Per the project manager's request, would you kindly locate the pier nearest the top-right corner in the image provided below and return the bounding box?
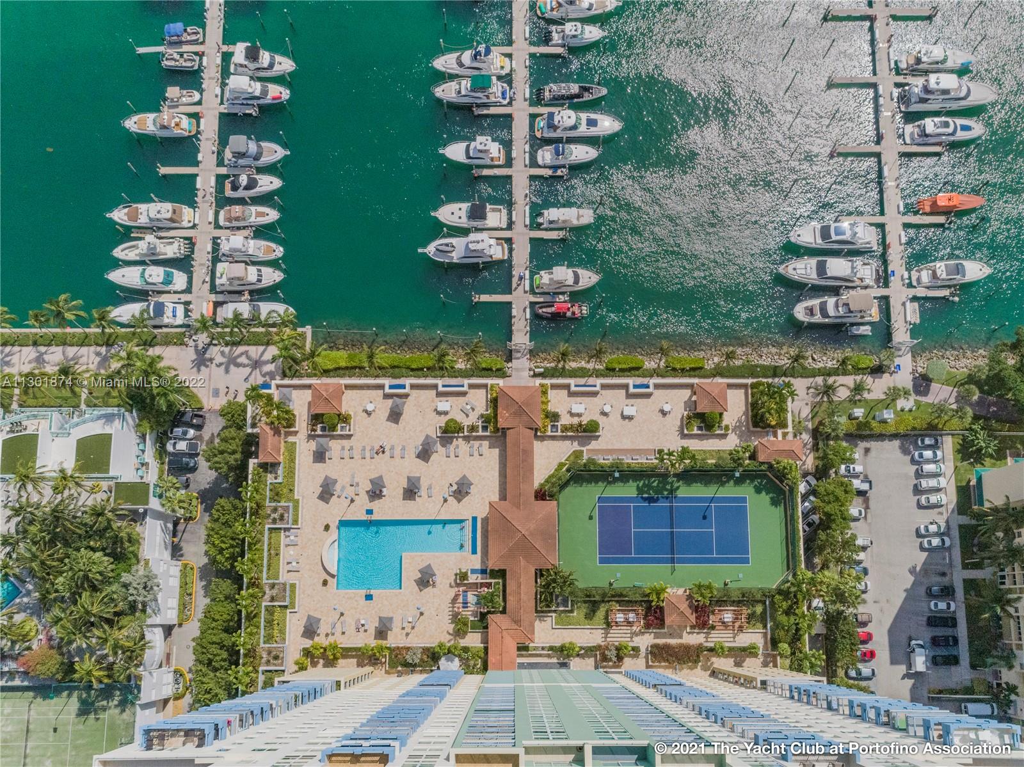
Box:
[826,0,960,375]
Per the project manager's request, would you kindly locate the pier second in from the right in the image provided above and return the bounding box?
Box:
[472,0,570,376]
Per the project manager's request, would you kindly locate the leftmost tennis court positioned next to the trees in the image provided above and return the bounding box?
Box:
[0,685,131,767]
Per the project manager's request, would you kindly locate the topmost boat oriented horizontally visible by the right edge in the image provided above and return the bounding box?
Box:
[889,49,979,78]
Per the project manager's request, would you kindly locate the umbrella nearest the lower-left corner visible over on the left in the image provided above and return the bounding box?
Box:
[303,613,323,633]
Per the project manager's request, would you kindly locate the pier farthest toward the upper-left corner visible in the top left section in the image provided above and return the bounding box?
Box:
[128,0,261,326]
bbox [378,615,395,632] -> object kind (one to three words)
umbrella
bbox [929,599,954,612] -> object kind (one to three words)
vehicle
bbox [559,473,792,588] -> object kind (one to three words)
tennis court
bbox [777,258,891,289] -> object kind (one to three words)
boat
